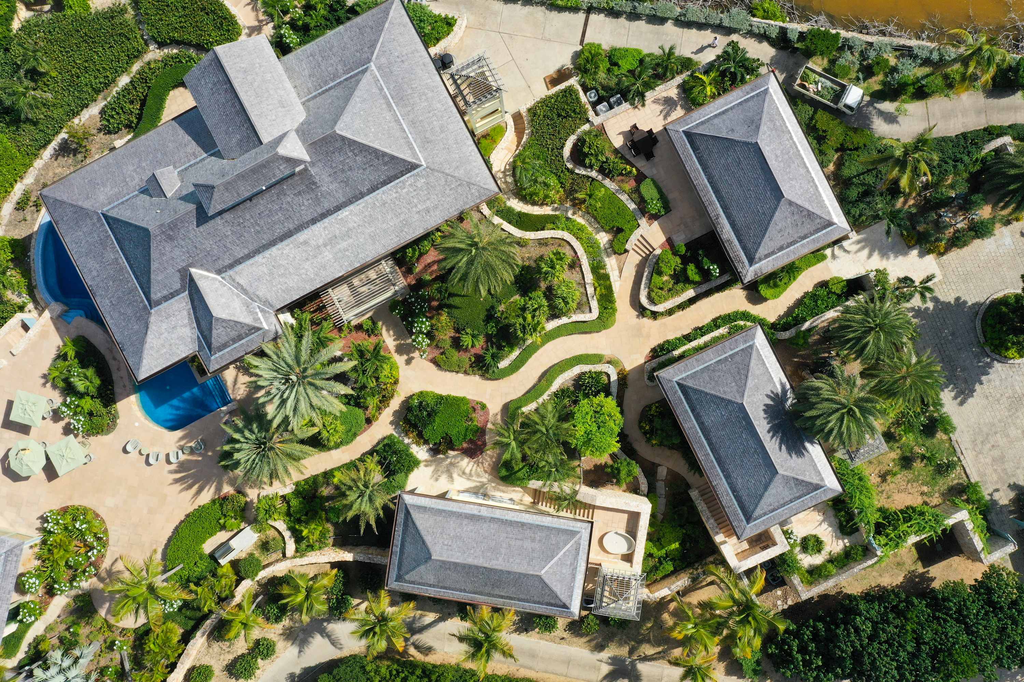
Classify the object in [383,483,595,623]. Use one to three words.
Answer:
house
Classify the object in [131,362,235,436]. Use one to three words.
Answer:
swimming pool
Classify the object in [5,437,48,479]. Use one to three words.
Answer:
umbrella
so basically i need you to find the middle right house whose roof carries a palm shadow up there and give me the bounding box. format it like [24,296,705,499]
[652,321,847,543]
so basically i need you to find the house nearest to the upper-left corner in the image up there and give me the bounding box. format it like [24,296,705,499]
[38,0,504,387]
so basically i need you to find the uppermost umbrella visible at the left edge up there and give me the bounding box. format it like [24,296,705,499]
[10,390,52,428]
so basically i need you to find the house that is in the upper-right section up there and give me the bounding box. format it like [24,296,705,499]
[663,71,854,287]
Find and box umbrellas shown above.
[43,434,88,478]
[5,437,48,479]
[10,390,52,428]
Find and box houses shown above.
[663,71,854,287]
[0,532,53,647]
[38,0,504,387]
[652,321,847,543]
[383,483,595,623]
